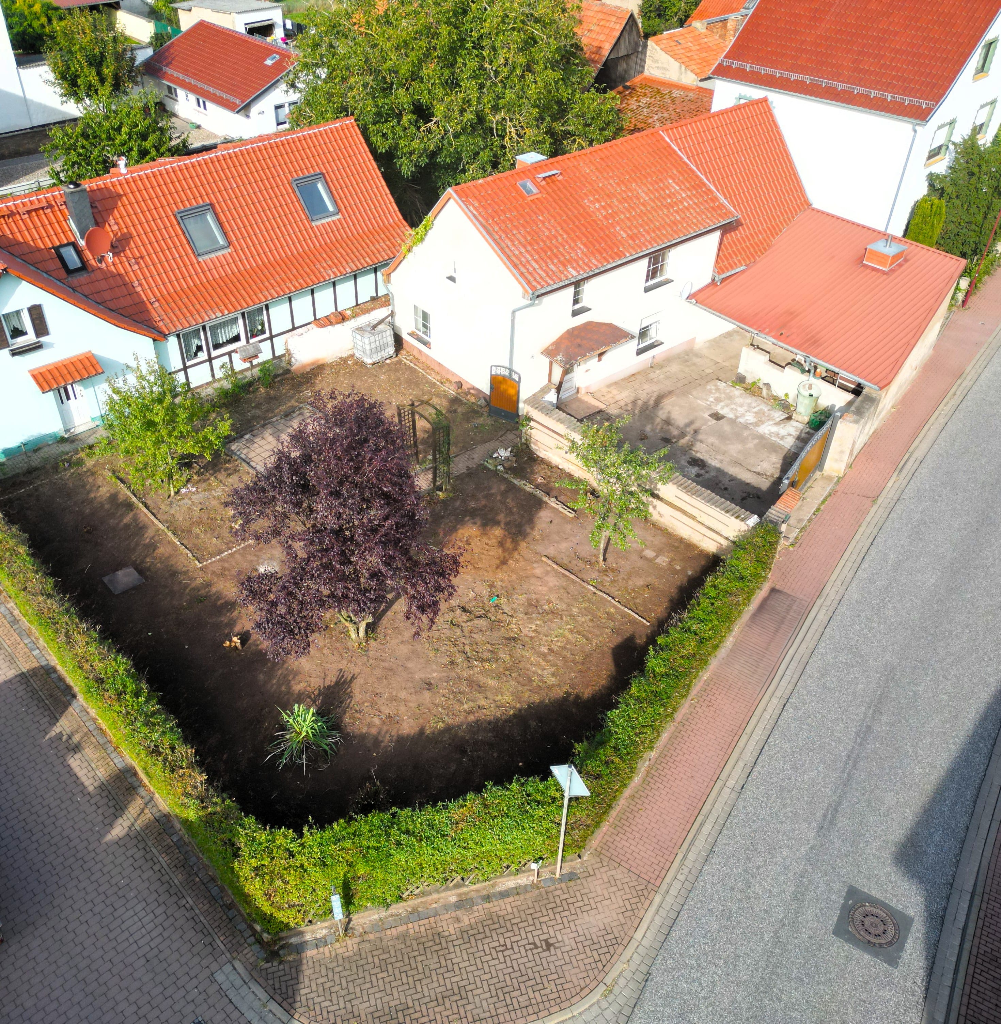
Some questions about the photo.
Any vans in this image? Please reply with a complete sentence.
No, there isn't any van down there.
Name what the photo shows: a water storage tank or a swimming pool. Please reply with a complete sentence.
The one in the frame is a water storage tank.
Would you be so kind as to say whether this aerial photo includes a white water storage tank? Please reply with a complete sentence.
Yes, this view includes a white water storage tank.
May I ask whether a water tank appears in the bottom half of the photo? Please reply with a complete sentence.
No, no water tank can be made out in the bottom half of the photo.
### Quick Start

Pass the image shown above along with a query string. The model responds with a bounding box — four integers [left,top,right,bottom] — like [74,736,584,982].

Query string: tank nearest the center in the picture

[347,315,395,366]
